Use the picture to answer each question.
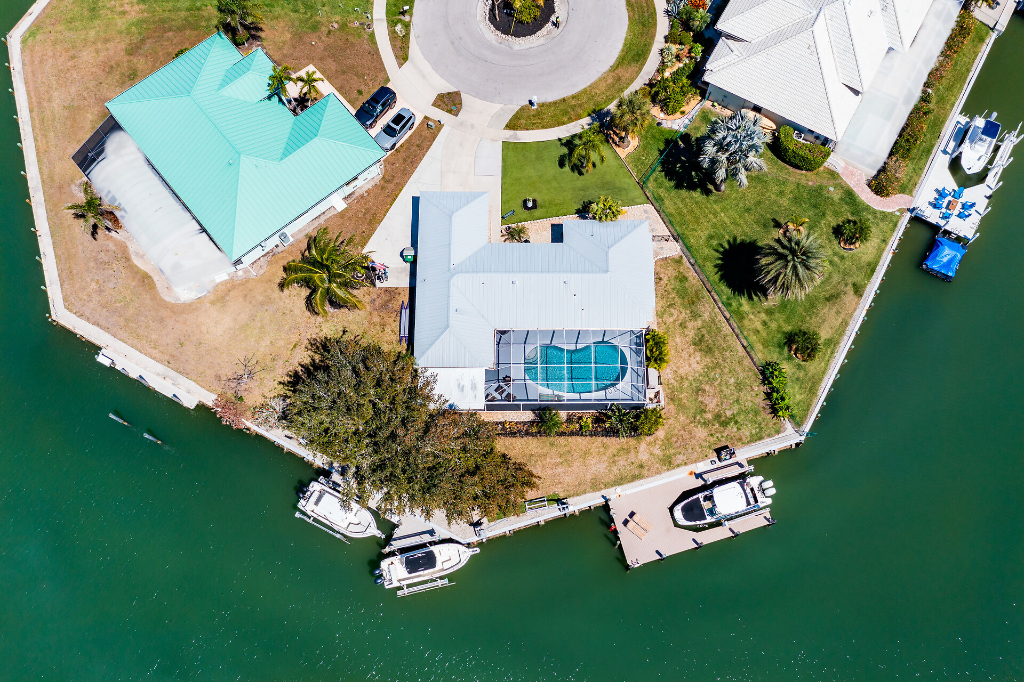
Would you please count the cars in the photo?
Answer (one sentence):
Altogether the scene contains 2 cars.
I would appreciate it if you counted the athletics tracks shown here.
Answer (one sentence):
Not a single athletics track can be seen.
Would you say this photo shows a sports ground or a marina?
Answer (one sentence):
What you see here is a marina.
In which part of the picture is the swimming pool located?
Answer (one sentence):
You can find the swimming pool in the center area of the picture.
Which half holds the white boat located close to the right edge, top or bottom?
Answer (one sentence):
It is in the top half that the white boat located close to the right edge appears.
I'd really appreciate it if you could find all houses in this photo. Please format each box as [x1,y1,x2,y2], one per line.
[105,30,387,282]
[413,190,656,417]
[704,0,935,149]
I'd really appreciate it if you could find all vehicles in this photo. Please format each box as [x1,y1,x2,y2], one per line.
[374,108,416,153]
[355,86,398,131]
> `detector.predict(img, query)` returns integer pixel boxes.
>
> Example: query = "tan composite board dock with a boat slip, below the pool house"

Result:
[609,457,771,565]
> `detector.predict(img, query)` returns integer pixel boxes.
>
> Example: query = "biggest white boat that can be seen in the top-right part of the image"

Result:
[961,110,1003,175]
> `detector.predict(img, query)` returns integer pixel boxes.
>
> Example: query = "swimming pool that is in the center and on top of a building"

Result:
[520,337,632,397]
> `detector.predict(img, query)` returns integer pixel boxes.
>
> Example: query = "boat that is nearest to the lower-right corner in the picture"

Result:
[673,478,774,521]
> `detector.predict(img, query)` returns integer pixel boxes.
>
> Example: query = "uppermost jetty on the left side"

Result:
[101,349,200,409]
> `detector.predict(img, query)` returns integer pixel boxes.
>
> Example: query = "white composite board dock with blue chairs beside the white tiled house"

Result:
[912,114,1017,240]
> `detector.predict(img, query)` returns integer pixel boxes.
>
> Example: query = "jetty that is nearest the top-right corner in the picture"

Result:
[993,0,1015,36]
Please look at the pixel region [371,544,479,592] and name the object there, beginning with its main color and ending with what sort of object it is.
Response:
white boat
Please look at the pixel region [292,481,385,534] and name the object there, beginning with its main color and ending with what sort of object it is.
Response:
white boat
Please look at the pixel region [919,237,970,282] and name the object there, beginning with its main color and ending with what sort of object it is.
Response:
blue boat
